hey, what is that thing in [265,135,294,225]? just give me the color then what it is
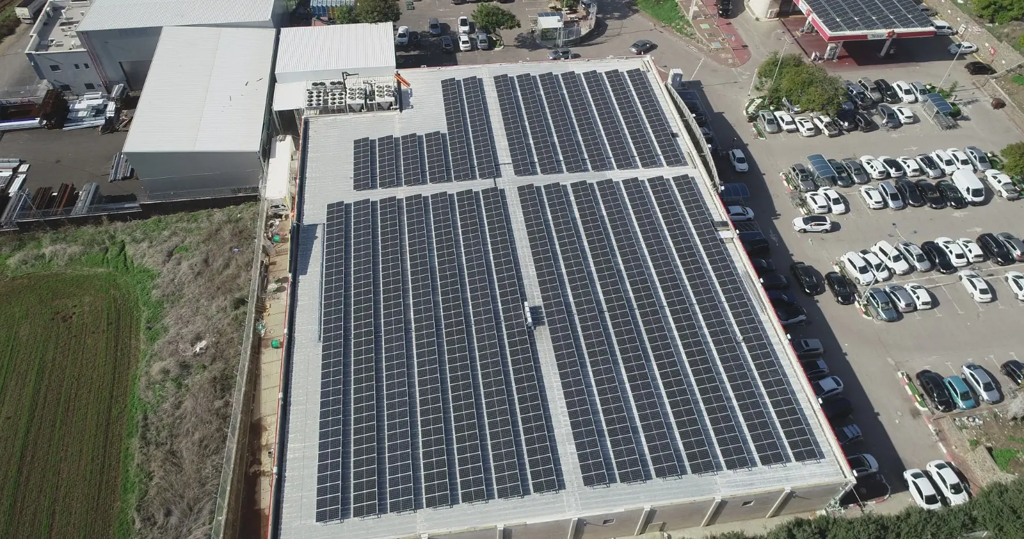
white truck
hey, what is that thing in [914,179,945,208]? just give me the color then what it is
black car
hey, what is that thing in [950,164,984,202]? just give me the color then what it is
white van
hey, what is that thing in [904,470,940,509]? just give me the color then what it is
white car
